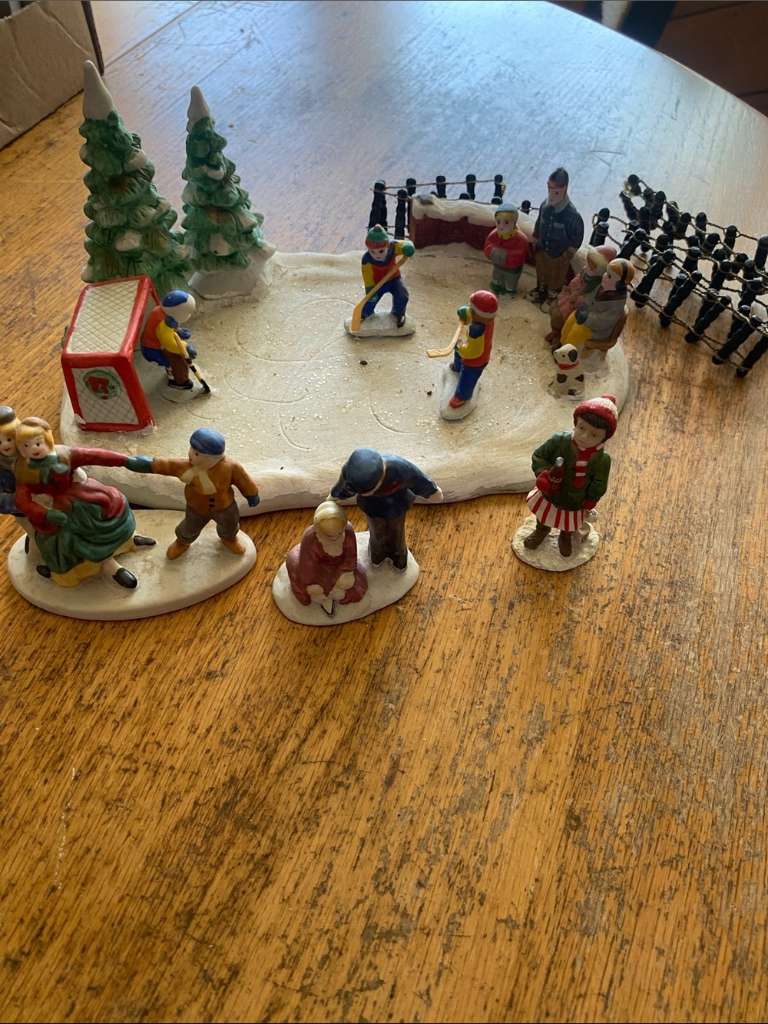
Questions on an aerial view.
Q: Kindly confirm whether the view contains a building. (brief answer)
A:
No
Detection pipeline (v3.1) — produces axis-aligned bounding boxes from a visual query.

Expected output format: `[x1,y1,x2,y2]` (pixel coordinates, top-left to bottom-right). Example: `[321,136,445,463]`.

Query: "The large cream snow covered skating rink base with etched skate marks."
[58,236,633,518]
